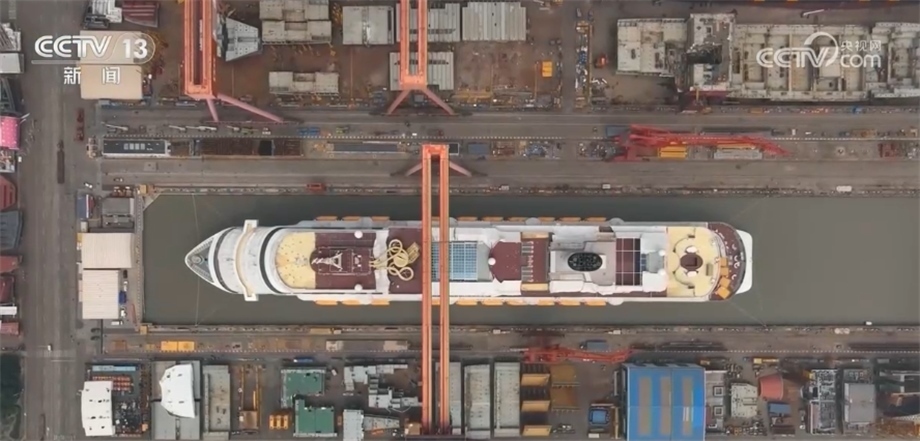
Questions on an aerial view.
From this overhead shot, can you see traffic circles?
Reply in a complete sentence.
No, there isn't any traffic circle down there.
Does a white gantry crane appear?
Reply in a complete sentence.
No, I find no white gantry crane anywhere in the image.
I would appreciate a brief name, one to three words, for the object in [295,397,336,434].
shed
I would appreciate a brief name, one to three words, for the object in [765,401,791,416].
building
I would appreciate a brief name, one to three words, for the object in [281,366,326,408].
shed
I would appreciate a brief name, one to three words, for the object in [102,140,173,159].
building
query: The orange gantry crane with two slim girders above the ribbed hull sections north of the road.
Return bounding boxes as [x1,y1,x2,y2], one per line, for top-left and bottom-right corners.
[373,0,466,114]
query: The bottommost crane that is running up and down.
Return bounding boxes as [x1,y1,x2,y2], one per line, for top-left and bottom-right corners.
[391,145,486,441]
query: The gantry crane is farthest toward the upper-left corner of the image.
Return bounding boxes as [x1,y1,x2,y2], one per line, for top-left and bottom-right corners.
[181,0,298,123]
